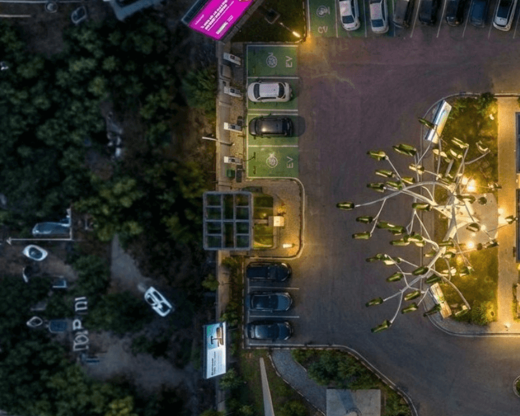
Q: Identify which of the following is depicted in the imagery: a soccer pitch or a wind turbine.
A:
wind turbine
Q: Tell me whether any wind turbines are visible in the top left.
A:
No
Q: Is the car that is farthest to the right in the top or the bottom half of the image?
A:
top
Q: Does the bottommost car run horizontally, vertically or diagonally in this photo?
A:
horizontally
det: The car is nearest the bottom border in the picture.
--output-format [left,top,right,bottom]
[246,320,296,343]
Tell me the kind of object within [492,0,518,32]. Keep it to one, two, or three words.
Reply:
car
